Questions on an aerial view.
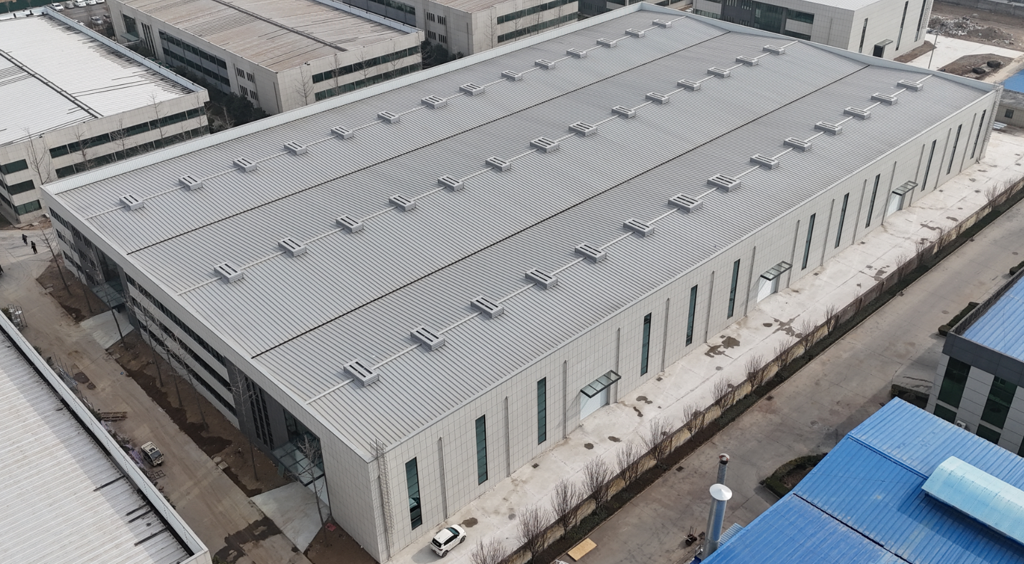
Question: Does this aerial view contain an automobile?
Yes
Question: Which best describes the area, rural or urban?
urban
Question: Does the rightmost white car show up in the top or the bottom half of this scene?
bottom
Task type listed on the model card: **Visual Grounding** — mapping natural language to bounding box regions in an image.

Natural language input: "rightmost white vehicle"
[429,525,467,557]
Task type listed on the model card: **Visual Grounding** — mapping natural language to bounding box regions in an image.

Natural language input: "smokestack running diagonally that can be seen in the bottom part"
[618,446,801,558]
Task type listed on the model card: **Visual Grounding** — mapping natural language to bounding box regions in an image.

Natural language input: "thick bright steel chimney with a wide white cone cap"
[705,485,732,556]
